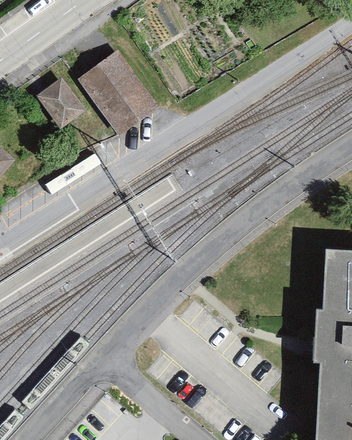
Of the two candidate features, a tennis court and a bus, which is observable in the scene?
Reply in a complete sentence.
It is a bus that can be seen here.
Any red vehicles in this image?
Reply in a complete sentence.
Yes, a red vehicle can be made out from above.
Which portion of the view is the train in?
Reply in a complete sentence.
Look in the bottom left portion of the view to spot the train.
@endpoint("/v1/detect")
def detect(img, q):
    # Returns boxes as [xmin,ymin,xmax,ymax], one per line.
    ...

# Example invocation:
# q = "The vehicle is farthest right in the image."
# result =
[267,401,287,419]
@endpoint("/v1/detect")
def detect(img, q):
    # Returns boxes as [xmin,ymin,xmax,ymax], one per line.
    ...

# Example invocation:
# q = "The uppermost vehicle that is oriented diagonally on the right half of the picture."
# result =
[210,325,230,346]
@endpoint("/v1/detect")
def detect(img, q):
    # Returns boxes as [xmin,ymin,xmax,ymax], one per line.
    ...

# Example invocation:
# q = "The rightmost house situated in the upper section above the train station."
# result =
[78,51,156,134]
